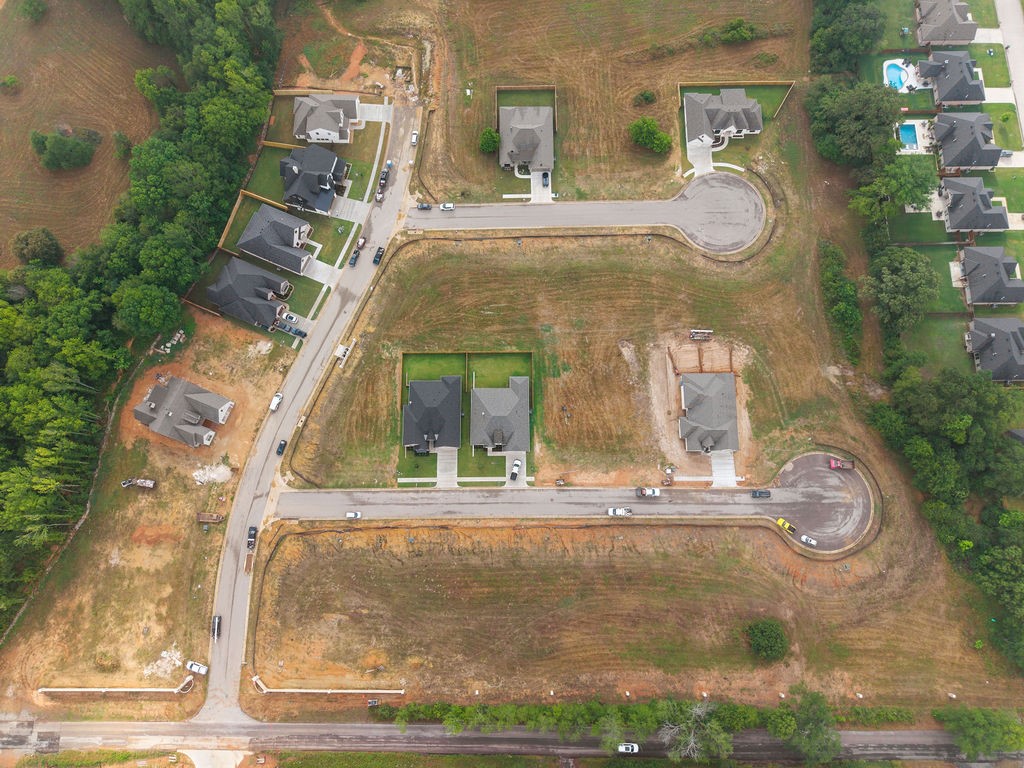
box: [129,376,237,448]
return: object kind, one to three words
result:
house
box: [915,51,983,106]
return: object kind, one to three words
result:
house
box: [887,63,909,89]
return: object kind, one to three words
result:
swimming pool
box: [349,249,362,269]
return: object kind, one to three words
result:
vehicle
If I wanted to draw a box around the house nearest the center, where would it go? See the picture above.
[470,376,530,451]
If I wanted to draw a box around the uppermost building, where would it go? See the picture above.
[913,0,977,47]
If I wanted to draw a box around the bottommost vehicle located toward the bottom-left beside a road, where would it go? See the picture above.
[187,659,210,675]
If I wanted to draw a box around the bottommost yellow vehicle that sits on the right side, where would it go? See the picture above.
[775,517,796,536]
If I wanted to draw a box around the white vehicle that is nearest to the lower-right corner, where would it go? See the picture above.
[799,533,817,548]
